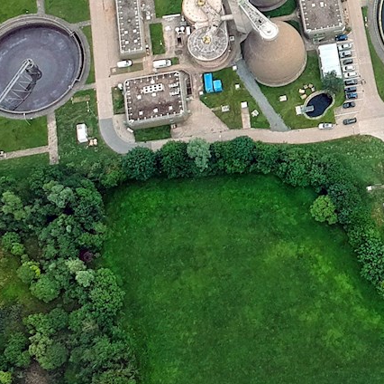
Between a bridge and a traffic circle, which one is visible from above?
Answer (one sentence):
There is a bridge in the scene.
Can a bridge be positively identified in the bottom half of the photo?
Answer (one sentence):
No, looking in the bottom half of the photo, there is no bridge.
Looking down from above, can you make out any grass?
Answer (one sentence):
Yes, grass can be seen from above here.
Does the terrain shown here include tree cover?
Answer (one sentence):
Yes, tree cover shows up in the scene.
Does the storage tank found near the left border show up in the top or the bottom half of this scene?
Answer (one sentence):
The storage tank found near the left border sits in the top half of the picture.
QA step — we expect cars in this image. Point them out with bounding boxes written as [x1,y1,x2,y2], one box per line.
[342,116,359,125]
[339,49,354,58]
[342,70,359,79]
[341,64,357,72]
[340,56,357,66]
[318,122,334,129]
[343,85,359,94]
[343,78,360,87]
[341,99,358,110]
[338,42,354,51]
[335,33,350,42]
[344,90,360,99]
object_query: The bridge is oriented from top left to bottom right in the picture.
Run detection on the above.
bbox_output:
[244,7,281,42]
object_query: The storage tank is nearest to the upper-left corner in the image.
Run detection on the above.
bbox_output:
[0,12,90,122]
